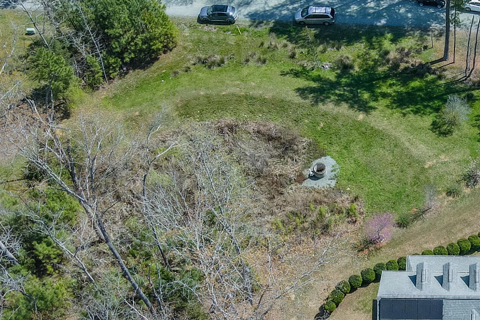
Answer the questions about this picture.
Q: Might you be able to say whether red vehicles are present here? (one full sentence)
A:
No, no red vehicle can be seen from above.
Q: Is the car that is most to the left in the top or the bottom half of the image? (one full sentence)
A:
Seen from above, the car that is most to the left lies in the top half of the view.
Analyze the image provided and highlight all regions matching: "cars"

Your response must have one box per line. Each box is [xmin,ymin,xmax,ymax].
[461,0,480,13]
[293,2,336,24]
[197,4,238,24]
[414,0,442,8]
